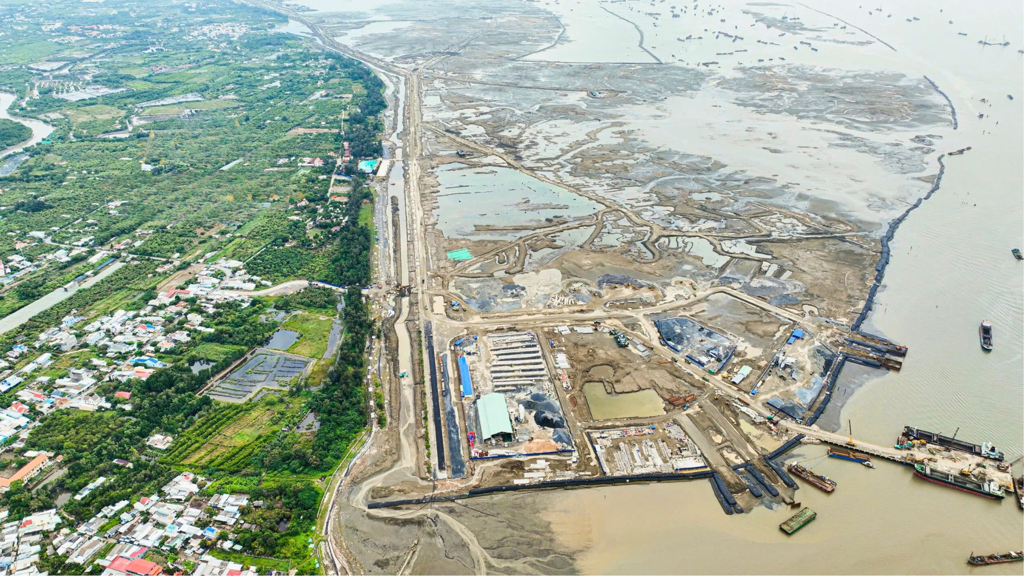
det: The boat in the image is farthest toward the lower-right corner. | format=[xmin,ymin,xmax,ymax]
[968,547,1024,568]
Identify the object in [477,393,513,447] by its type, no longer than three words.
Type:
building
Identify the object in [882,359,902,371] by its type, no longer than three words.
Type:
ship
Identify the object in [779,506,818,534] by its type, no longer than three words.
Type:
ship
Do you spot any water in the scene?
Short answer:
Yes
